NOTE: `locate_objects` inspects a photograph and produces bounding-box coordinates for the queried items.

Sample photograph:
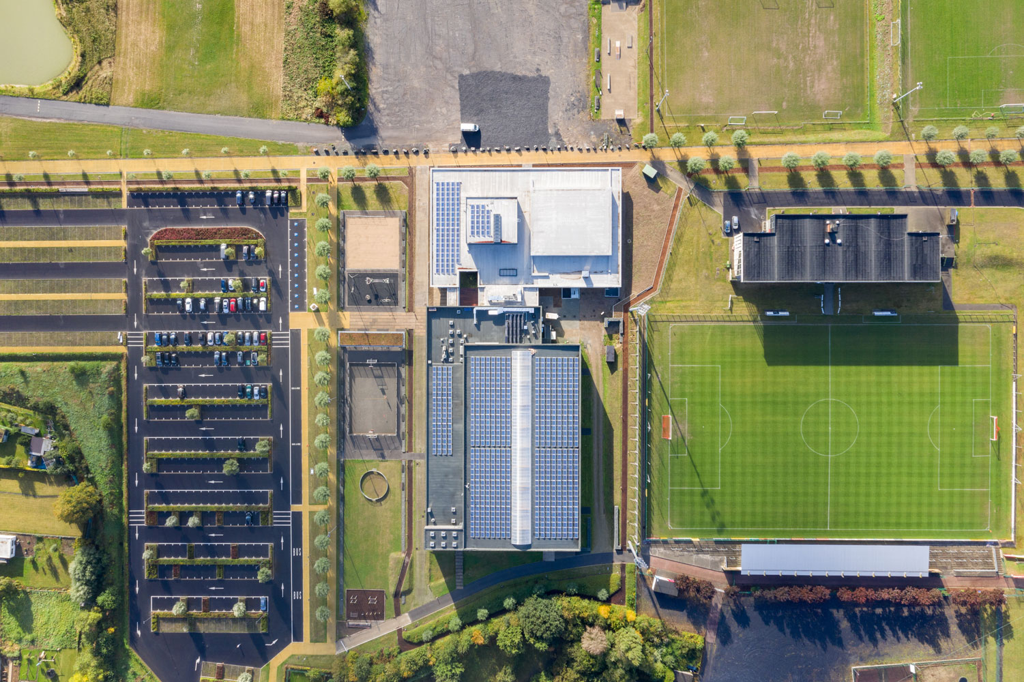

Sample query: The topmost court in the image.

[346,216,400,269]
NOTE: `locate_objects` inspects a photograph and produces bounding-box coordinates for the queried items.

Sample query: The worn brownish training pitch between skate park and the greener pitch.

[656,0,871,127]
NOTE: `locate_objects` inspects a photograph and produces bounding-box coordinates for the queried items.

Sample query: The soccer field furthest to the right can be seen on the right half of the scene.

[900,0,1024,120]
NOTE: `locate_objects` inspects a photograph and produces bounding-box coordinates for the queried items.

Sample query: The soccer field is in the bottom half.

[648,315,1013,541]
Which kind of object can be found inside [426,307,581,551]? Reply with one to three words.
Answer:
building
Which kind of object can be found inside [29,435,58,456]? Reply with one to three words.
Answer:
shed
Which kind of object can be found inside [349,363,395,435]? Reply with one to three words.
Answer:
sports court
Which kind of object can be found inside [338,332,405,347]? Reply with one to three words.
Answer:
building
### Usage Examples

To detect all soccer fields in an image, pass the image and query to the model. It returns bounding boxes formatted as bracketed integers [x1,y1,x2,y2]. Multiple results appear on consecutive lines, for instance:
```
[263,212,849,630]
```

[900,0,1024,120]
[656,0,871,127]
[648,315,1013,541]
